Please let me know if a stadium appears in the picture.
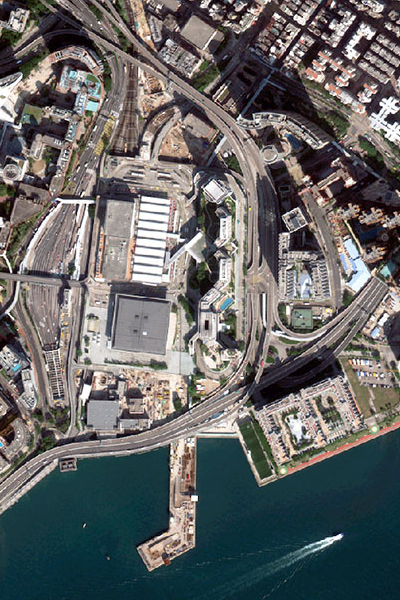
Yes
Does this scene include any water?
Yes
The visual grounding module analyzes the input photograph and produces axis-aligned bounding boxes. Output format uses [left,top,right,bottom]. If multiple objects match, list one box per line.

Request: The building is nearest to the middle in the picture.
[199,288,224,312]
